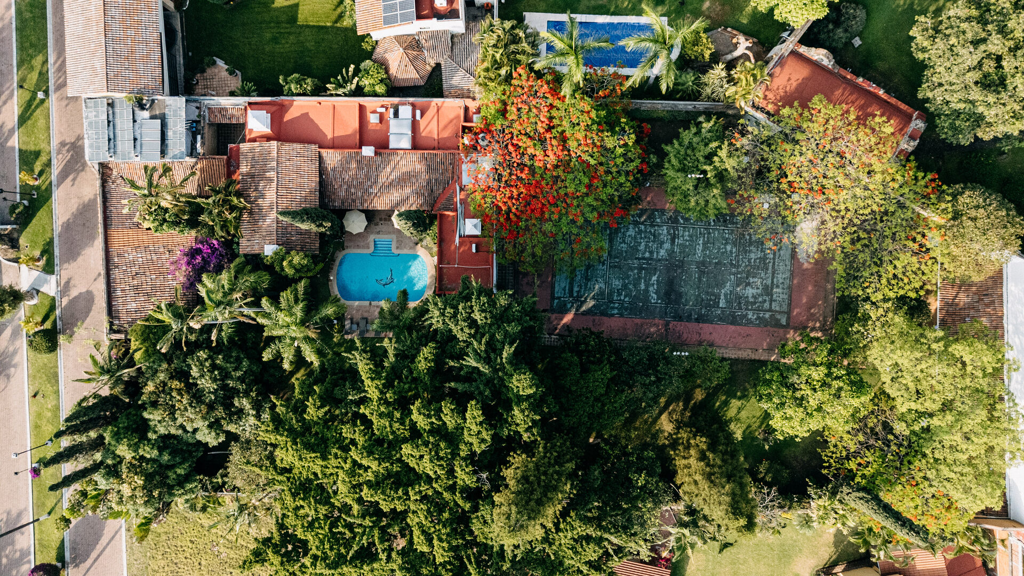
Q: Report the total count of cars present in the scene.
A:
0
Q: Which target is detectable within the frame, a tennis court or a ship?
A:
tennis court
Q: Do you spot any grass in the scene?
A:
Yes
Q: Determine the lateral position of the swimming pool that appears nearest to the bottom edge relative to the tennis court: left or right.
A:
to the left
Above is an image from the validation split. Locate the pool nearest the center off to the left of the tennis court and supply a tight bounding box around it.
[329,234,436,308]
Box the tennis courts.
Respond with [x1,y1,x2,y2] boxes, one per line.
[520,184,837,349]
